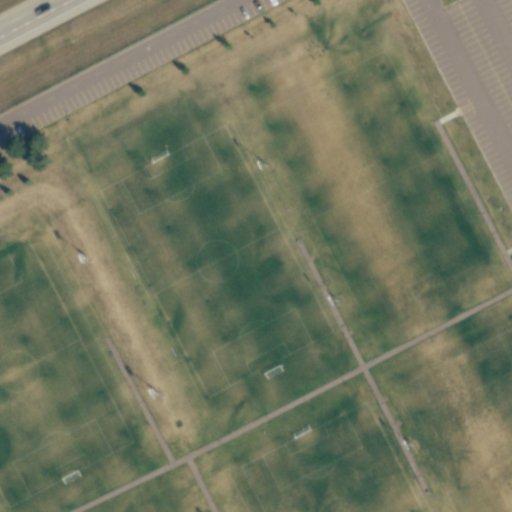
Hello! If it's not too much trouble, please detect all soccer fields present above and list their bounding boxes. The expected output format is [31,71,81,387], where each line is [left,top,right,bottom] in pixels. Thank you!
[259,48,492,318]
[240,402,424,512]
[400,329,512,512]
[0,236,134,506]
[101,127,334,397]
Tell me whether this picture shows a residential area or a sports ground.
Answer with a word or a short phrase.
sports ground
